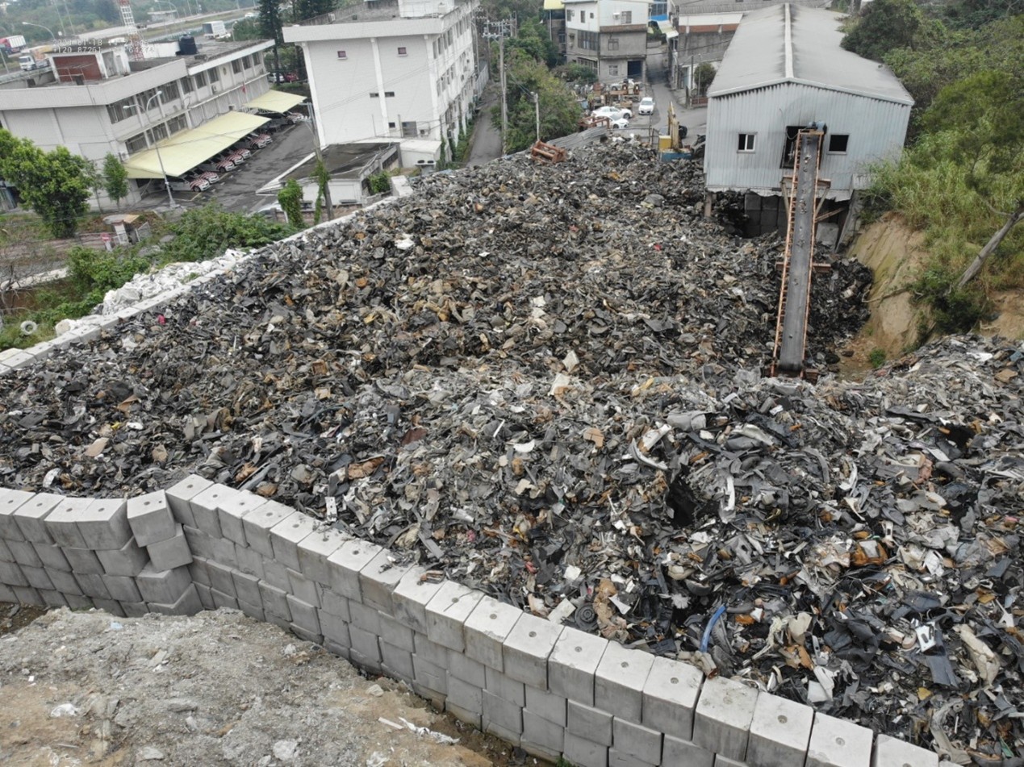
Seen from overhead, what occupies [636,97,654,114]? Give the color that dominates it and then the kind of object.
white car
